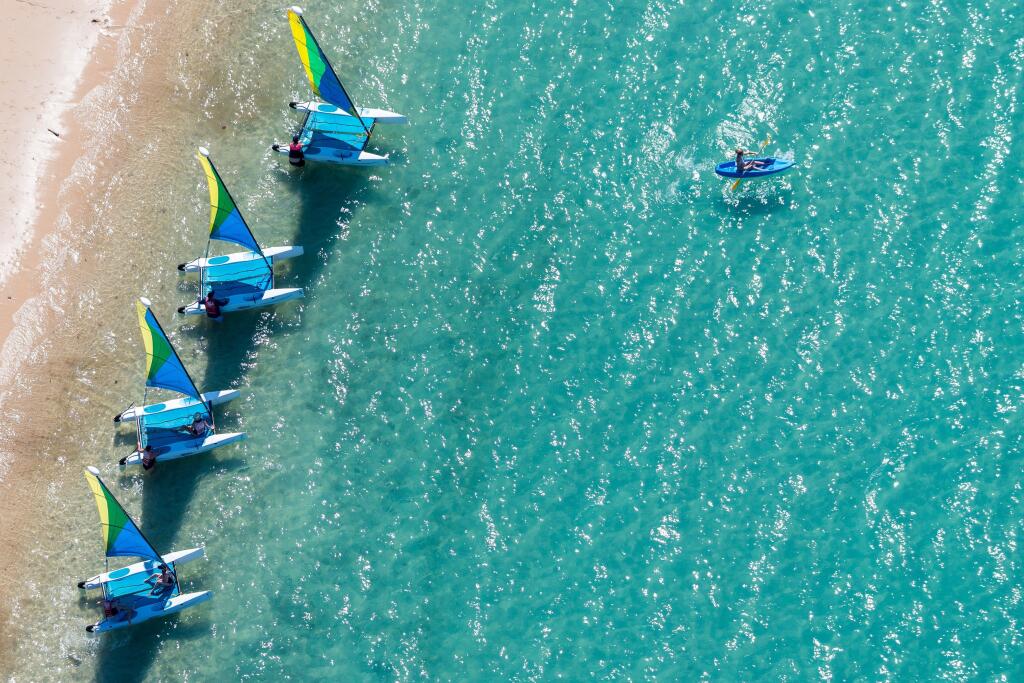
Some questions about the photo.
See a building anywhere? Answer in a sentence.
No, I can see no building in this picture.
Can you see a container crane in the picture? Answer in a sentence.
No, I can't see a single container crane in this photo.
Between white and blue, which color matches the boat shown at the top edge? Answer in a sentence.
From above, the boat shown at the top edge appears blue.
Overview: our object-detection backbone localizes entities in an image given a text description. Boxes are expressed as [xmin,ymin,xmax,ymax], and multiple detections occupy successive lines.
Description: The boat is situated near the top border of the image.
[274,7,407,167]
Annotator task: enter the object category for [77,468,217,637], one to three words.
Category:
boat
